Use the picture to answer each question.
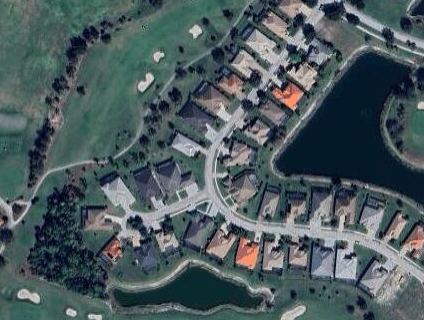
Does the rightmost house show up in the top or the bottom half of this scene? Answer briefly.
bottom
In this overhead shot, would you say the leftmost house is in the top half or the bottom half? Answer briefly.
bottom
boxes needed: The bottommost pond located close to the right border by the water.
[274,49,424,208]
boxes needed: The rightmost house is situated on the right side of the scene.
[401,222,424,253]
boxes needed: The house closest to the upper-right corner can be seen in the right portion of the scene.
[308,41,331,66]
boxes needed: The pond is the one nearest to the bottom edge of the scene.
[111,263,265,311]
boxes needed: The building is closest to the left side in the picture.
[79,207,109,229]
